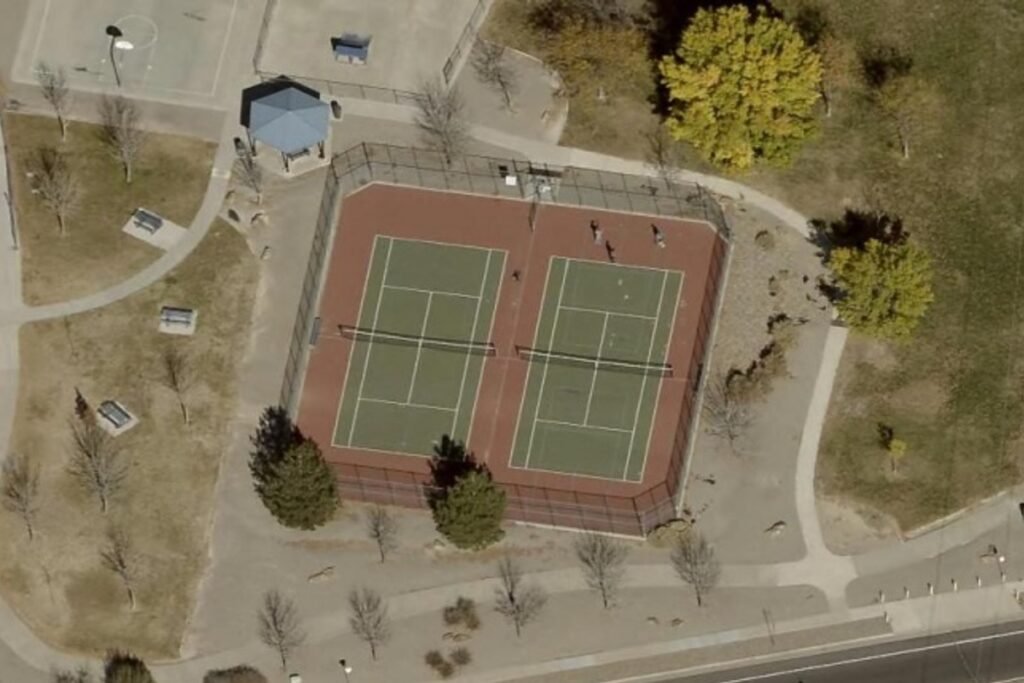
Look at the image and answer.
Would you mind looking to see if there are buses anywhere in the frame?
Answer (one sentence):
No, no bus is visible in the scene.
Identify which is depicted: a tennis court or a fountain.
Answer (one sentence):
The image shows a tennis court.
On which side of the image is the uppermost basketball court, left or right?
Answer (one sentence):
The uppermost basketball court is on the left side of the image.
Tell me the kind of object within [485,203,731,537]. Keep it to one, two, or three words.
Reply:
tennis court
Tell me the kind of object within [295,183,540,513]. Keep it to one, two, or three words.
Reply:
tennis court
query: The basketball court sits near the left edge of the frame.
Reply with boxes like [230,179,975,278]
[12,0,239,110]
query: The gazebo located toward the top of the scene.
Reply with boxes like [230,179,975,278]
[252,87,330,173]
